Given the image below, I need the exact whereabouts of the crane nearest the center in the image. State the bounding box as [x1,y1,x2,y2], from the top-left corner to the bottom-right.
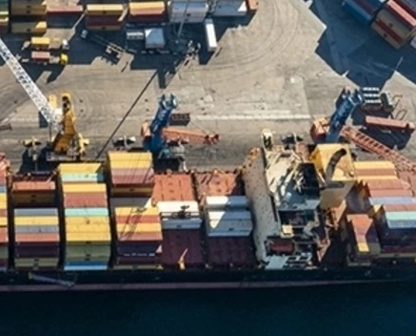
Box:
[125,90,226,168]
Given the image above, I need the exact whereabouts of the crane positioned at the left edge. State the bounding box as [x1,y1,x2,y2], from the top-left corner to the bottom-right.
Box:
[0,28,89,170]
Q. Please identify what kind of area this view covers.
port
